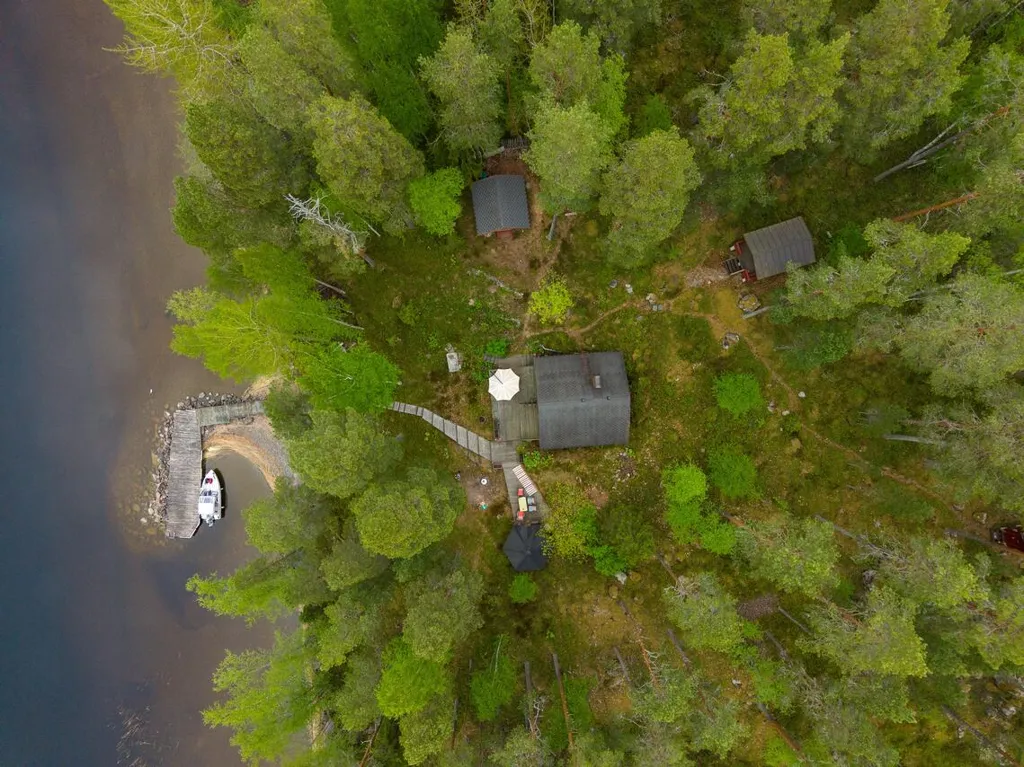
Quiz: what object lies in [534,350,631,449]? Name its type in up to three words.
building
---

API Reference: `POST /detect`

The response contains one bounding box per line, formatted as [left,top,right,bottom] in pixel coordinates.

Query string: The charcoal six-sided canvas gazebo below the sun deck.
[504,523,548,571]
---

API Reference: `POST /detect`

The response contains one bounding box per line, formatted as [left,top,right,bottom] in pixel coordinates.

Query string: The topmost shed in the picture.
[473,175,530,242]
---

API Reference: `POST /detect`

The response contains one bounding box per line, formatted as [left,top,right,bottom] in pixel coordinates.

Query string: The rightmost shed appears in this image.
[719,216,816,283]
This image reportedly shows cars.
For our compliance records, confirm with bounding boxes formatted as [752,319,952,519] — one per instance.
[995,527,1024,552]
